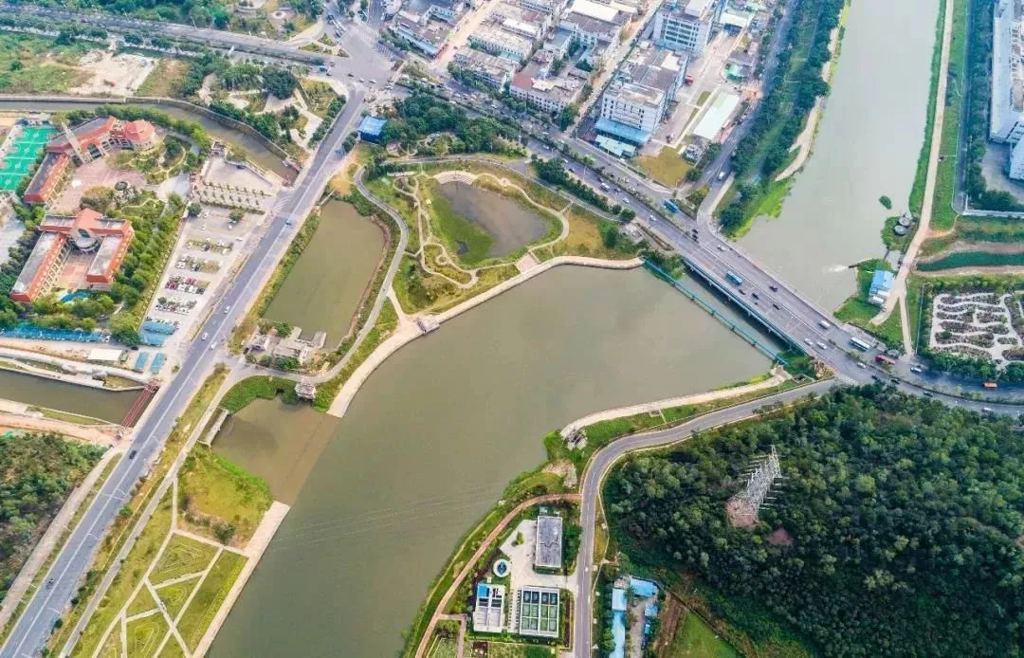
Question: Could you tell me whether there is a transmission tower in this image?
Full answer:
Yes, the photo shows a transmission tower.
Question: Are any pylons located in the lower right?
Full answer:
Yes, you'll find a pylon in the lower right.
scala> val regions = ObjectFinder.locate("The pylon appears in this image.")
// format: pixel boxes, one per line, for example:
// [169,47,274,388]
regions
[724,455,792,529]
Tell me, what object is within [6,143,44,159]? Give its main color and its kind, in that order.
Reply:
green basketball court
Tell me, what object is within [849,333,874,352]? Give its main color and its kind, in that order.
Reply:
white vehicle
